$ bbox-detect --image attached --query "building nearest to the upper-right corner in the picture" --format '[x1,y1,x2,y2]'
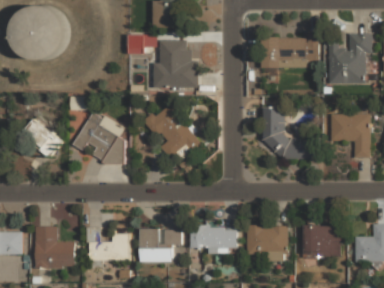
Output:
[329,30,374,83]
